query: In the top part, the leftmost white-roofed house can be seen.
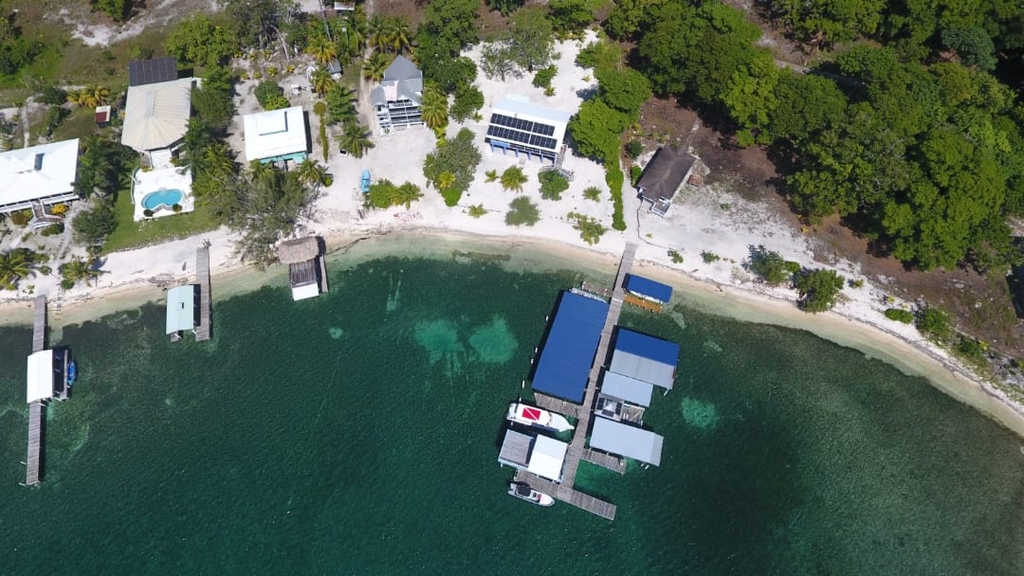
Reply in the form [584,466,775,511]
[0,139,86,235]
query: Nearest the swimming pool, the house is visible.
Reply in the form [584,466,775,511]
[122,57,204,170]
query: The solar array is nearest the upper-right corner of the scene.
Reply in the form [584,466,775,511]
[490,111,552,146]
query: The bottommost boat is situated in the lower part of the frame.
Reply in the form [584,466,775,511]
[506,482,554,504]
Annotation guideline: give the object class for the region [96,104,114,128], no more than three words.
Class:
shed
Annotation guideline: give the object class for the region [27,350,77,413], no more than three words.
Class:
building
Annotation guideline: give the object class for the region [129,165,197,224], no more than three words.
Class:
swimming pool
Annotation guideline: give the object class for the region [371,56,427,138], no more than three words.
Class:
house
